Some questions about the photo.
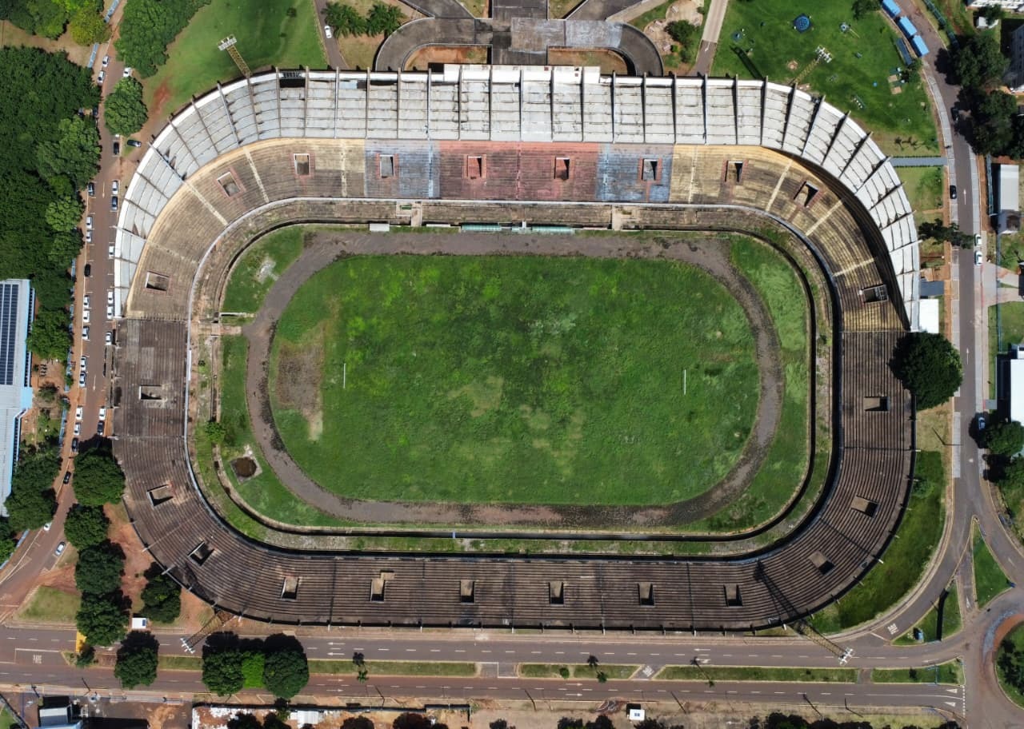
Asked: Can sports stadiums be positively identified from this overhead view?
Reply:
Yes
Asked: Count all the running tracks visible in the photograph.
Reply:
one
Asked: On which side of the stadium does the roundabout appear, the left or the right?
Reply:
on its right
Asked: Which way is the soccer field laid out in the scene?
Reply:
from left to right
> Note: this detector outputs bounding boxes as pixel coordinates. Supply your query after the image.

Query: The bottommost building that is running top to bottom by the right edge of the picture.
[994,359,1024,425]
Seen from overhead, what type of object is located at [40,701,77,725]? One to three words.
house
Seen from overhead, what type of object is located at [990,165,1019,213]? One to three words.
building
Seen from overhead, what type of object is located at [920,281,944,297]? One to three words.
shed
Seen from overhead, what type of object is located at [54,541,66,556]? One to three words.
vehicle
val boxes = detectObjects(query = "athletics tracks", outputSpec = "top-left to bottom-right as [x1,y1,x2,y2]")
[248,229,785,528]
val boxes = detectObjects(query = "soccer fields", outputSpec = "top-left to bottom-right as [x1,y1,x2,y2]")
[268,252,761,505]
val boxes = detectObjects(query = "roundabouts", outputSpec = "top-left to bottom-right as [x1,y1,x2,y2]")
[918,543,1024,729]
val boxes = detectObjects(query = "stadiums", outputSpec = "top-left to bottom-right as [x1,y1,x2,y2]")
[103,63,927,639]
